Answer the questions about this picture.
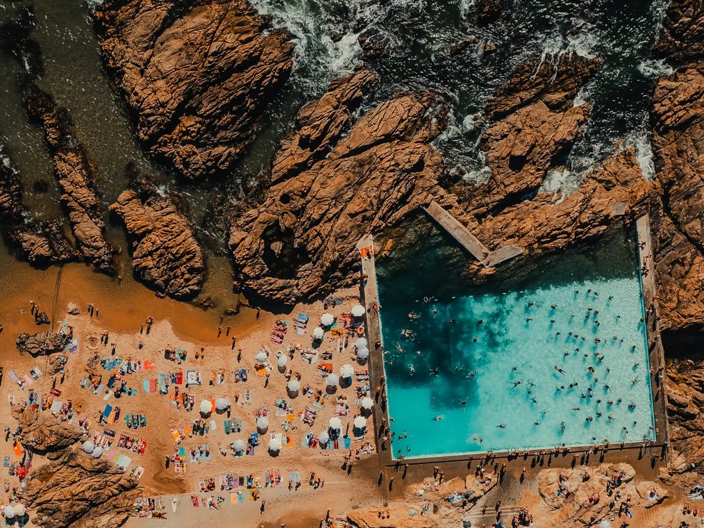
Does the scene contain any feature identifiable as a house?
No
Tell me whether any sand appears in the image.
Yes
